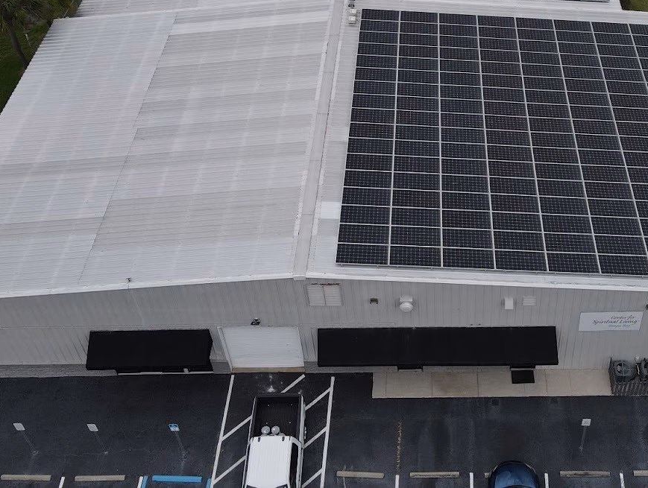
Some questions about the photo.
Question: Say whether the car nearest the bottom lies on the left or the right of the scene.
right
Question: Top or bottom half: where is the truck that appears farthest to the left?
bottom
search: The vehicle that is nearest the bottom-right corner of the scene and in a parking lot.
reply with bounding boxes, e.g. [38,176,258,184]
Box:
[486,461,544,488]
